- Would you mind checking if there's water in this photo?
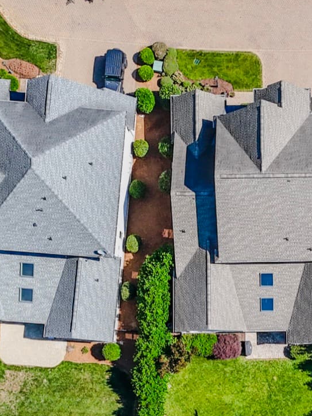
No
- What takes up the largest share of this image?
buildings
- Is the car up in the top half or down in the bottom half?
top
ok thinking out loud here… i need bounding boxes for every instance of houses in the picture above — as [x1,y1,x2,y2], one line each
[0,75,143,343]
[168,81,312,344]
